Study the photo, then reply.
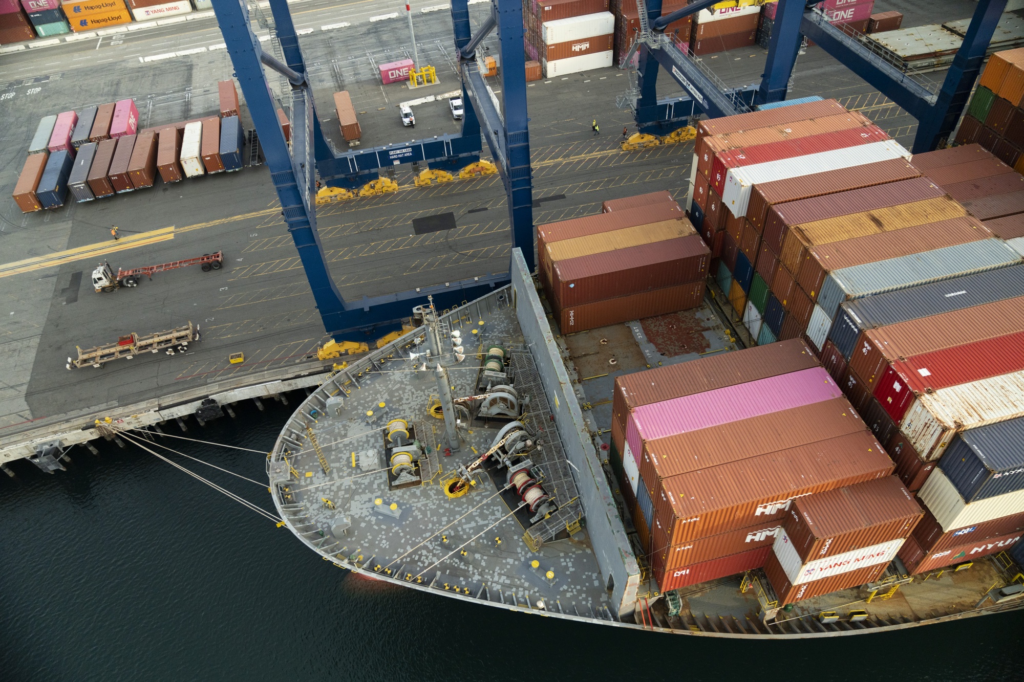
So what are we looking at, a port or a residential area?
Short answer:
port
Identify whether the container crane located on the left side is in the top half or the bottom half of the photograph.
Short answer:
top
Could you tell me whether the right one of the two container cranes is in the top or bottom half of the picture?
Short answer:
top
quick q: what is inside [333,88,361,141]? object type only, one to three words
shipping container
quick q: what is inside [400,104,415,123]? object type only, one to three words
car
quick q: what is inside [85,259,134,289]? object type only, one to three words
work vehicle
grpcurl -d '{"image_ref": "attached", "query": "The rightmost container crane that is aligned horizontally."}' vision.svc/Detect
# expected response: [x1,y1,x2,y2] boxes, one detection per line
[614,0,1013,150]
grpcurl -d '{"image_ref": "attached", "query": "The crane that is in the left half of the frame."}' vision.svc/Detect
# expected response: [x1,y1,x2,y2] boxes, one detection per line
[208,0,538,362]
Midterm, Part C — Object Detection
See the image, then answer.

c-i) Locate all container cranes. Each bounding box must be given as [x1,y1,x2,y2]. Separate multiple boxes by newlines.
[614,0,1013,150]
[208,0,538,362]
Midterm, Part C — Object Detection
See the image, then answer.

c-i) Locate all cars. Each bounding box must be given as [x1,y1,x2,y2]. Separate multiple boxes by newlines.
[450,95,462,115]
[400,104,415,123]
